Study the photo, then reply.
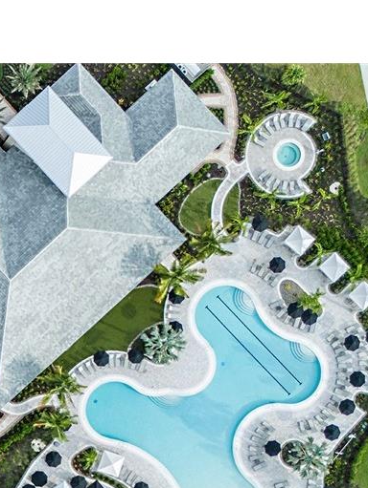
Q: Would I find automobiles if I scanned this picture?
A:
No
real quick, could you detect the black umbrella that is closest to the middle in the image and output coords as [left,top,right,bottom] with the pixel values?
[168,287,185,305]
